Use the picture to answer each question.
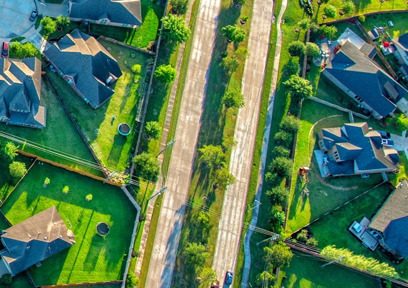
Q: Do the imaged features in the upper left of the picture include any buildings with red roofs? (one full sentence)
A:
No, I see no building with a red roof in the upper left of the picture.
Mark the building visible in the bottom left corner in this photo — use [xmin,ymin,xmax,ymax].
[3,221,75,273]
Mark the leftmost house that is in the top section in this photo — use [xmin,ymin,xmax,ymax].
[0,57,47,125]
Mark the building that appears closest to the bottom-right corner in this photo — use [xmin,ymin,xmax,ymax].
[363,184,408,261]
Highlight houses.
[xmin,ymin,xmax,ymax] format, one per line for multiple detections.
[0,57,47,125]
[328,126,399,177]
[47,31,128,112]
[324,41,408,124]
[363,184,408,261]
[65,0,142,29]
[3,221,75,273]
